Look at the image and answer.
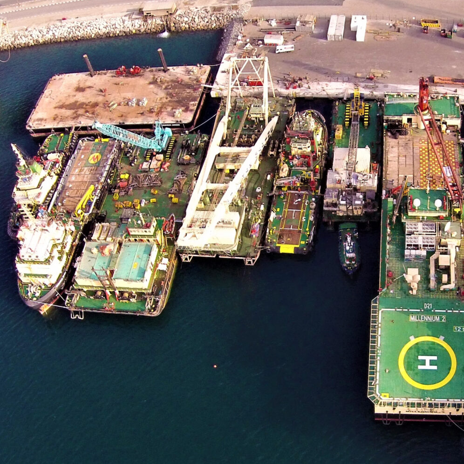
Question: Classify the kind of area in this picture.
port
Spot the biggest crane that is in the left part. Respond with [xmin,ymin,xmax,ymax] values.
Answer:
[96,121,180,161]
